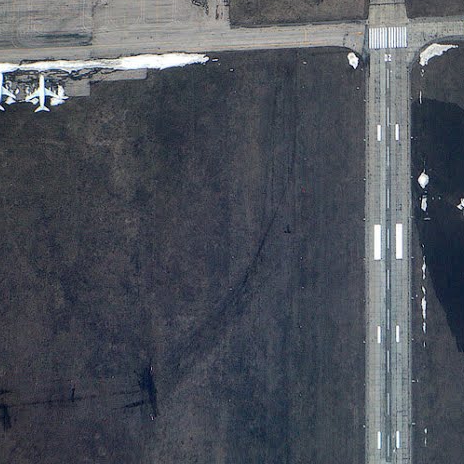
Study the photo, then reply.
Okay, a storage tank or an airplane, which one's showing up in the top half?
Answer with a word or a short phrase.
airplane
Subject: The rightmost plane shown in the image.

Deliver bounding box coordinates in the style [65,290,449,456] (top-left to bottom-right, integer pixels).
[25,73,59,112]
